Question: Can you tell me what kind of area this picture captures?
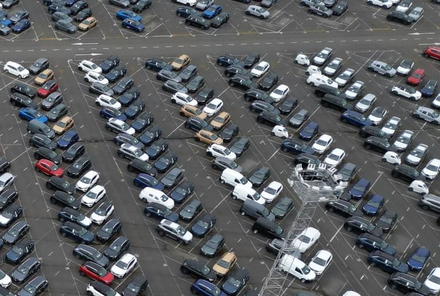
parking lot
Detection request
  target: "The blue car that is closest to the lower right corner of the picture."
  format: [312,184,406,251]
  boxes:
[405,245,431,273]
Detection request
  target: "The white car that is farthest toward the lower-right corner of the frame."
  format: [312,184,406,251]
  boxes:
[422,268,440,296]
